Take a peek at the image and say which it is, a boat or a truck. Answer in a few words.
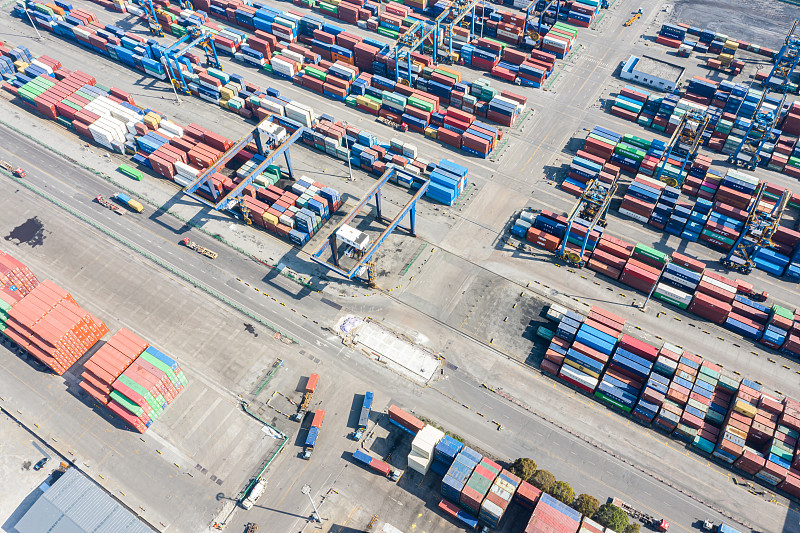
truck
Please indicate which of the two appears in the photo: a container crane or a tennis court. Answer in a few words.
container crane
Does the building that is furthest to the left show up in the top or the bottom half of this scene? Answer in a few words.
bottom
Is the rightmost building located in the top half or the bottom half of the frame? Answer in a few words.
top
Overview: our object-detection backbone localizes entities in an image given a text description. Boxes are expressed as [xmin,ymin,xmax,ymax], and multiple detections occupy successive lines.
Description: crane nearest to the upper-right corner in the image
[766,20,800,90]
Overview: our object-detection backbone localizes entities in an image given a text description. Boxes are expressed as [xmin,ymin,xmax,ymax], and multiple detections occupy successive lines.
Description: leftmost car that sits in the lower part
[34,458,50,472]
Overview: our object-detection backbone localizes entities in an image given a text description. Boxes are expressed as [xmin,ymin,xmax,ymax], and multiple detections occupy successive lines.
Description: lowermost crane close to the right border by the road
[719,179,789,274]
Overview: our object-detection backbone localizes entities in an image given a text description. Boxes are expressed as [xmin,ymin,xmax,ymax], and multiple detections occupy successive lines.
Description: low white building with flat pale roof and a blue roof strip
[620,52,686,94]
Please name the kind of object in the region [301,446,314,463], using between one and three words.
vehicle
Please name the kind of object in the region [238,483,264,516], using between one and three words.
truck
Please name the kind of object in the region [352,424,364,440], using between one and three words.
vehicle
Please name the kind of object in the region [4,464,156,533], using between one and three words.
building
